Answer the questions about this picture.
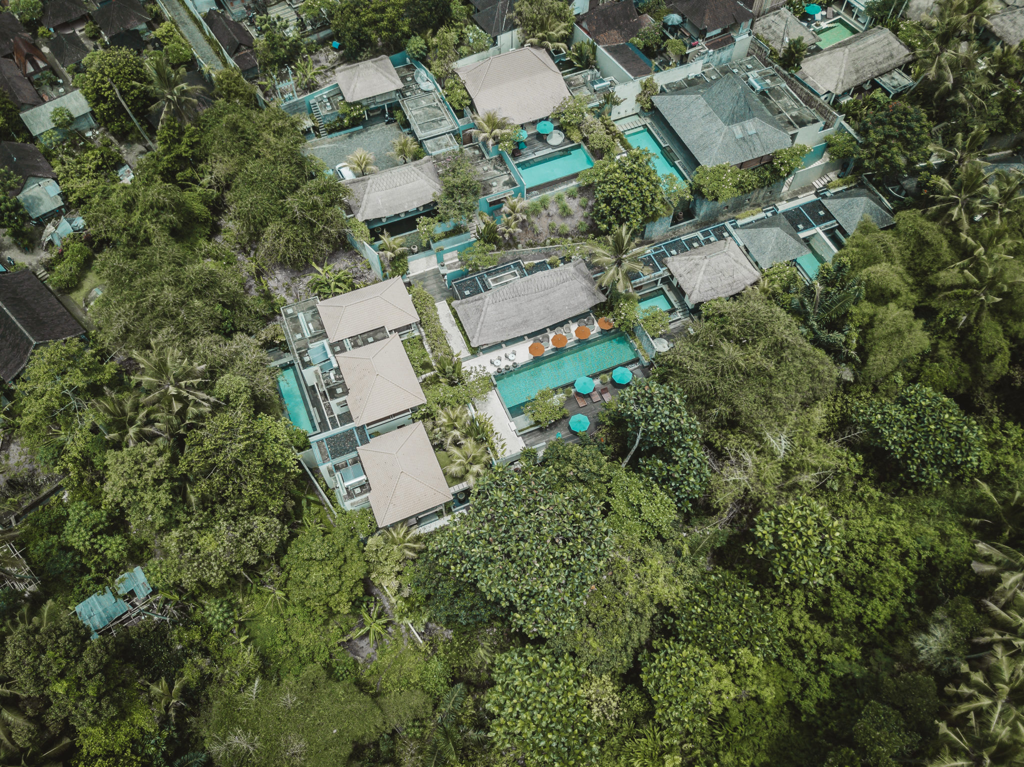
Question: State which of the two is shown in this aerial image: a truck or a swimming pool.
swimming pool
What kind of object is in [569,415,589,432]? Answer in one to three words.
umbrella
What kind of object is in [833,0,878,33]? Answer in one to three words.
building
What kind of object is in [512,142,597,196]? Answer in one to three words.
swimming pool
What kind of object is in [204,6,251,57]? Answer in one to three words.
house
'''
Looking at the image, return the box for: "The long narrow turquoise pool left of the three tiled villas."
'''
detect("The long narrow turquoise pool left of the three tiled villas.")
[274,362,318,442]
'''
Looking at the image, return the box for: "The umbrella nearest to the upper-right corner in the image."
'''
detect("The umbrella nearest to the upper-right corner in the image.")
[804,6,821,23]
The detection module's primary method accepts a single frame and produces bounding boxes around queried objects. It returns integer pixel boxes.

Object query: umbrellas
[537,123,551,140]
[612,368,631,387]
[804,6,821,23]
[575,328,590,344]
[529,344,544,360]
[663,15,682,34]
[569,415,589,432]
[598,318,613,335]
[551,336,567,352]
[574,378,594,396]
